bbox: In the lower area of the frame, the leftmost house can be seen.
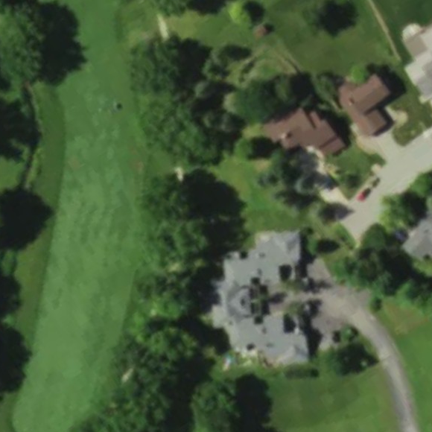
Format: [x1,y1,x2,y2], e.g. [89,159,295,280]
[218,231,310,364]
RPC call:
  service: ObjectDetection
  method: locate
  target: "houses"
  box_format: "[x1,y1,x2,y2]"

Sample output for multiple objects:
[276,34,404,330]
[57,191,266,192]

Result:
[339,73,391,136]
[408,212,432,261]
[404,23,432,99]
[265,107,346,157]
[218,231,310,364]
